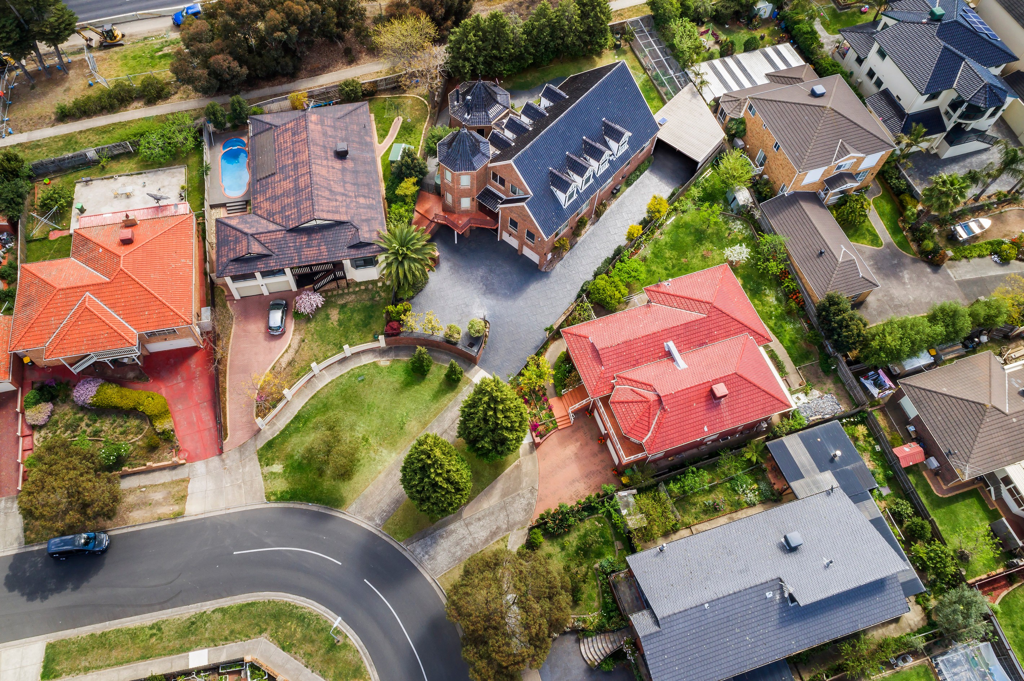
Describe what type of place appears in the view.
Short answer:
residential area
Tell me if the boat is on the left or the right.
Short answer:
right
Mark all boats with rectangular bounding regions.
[951,218,994,241]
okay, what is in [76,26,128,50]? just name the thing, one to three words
work vehicle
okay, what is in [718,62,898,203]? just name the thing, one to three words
house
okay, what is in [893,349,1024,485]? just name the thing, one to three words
house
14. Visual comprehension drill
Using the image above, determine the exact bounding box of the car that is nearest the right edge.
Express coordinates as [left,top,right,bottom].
[265,297,287,333]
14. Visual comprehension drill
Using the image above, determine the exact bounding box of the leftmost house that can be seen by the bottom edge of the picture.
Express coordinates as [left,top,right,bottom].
[581,486,922,681]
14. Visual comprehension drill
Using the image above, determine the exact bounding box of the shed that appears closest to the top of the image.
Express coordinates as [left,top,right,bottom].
[750,1,771,27]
